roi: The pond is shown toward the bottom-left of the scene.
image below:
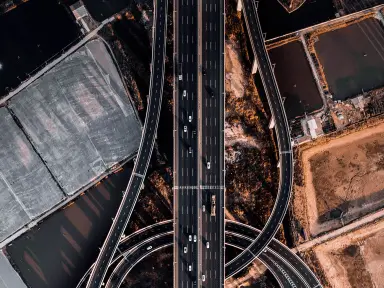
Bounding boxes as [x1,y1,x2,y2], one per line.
[8,165,134,288]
